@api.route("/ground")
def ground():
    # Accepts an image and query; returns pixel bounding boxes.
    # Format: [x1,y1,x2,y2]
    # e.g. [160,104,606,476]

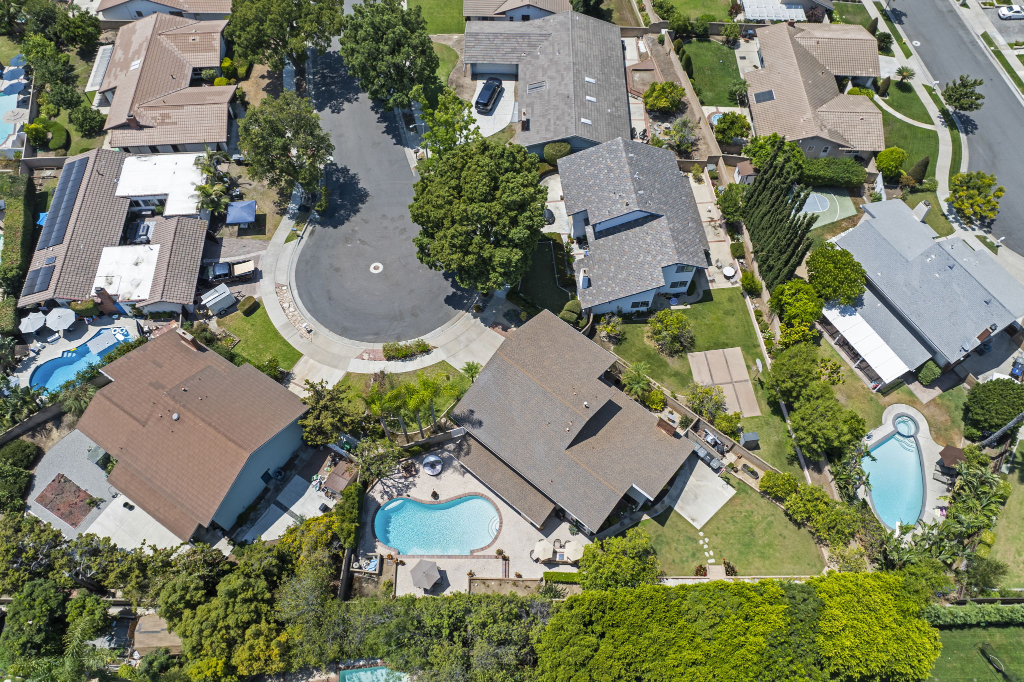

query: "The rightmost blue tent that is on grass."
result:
[226,201,263,238]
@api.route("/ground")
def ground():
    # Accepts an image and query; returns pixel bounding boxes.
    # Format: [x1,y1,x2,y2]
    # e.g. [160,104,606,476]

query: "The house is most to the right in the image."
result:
[838,182,1024,372]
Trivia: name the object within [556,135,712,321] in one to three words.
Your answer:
house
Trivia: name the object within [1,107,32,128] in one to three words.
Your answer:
umbrella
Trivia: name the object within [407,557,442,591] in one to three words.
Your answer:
umbrella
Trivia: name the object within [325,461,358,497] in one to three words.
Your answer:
shed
